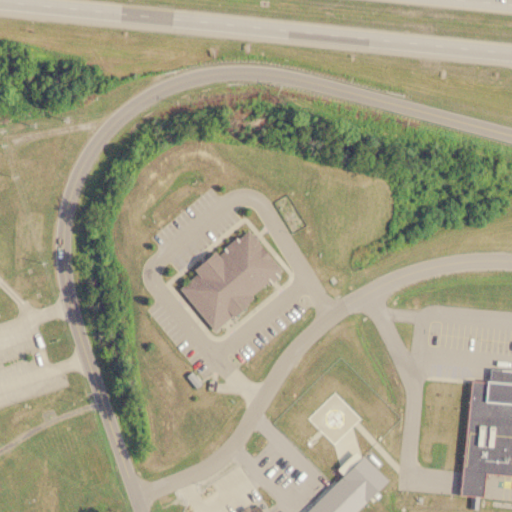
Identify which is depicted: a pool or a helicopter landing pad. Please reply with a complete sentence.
The one in the frame is a helicopter landing pad.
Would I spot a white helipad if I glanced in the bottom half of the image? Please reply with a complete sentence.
Yes, there is a white helipad in the bottom half of the image.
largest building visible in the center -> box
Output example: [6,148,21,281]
[180,232,283,328]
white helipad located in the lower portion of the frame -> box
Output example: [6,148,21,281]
[309,392,362,445]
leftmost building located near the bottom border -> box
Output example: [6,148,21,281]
[308,458,390,512]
